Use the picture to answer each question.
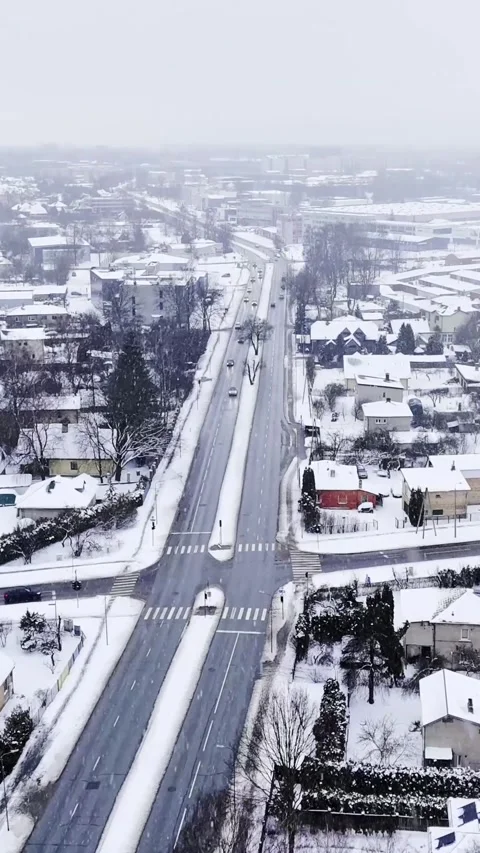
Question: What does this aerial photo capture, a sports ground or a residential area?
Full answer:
The picture captures a residential area.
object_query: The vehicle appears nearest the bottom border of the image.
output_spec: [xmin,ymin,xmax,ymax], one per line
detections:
[2,587,40,605]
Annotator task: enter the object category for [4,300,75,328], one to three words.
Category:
house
